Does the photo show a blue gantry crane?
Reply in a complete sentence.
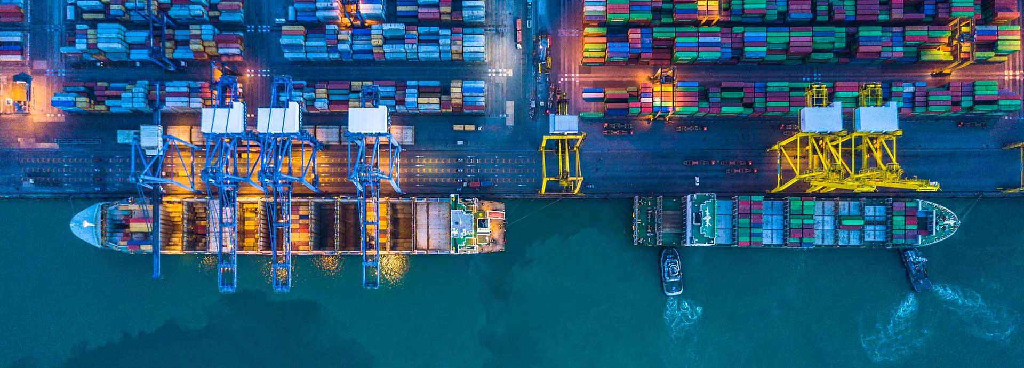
Yes, looking at the shot, I can spot a blue gantry crane.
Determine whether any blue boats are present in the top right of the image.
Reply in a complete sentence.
No, in the top right of the image there is no blue boat.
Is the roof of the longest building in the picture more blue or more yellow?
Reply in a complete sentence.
The roof of the longest building is yellow.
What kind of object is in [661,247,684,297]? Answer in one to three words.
boat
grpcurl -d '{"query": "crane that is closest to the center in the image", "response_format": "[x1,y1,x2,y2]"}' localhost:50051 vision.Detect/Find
[532,90,586,194]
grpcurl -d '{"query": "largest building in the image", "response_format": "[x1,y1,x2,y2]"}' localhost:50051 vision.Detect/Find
[7,79,27,112]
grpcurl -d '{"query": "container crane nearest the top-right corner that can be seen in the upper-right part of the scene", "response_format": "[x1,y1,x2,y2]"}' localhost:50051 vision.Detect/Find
[931,15,978,75]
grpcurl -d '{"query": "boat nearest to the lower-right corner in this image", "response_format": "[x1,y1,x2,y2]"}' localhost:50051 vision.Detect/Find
[902,249,934,295]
